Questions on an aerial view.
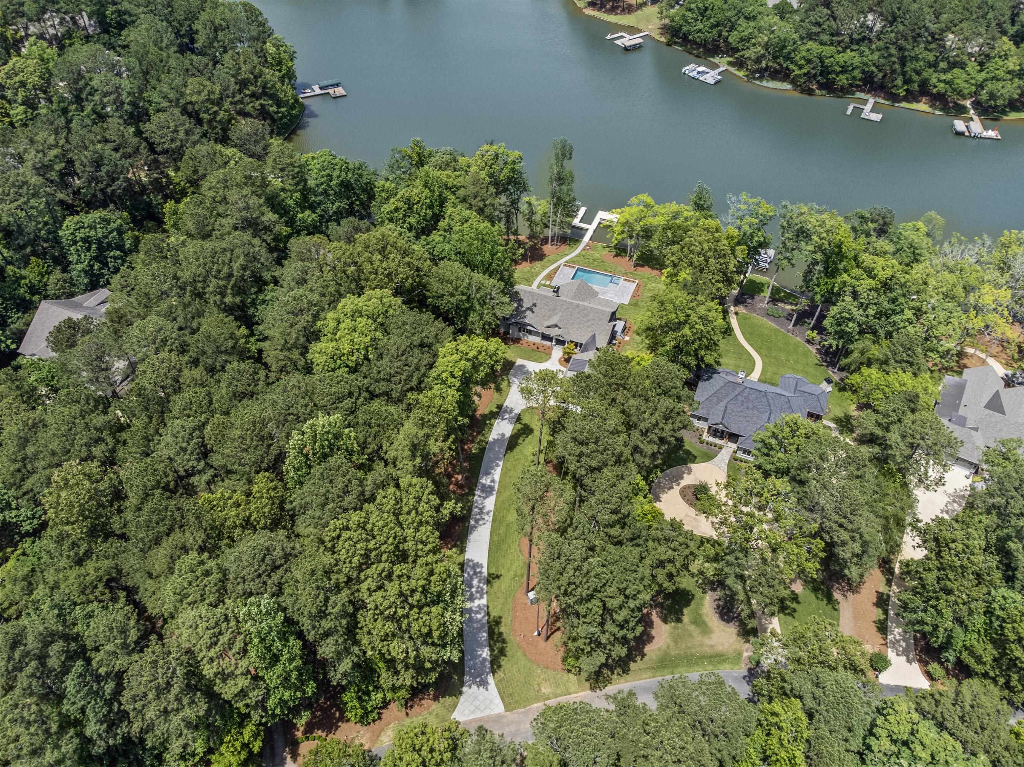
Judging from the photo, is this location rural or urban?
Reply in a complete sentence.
It looks rural.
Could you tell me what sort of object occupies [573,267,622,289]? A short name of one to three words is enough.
swimming pool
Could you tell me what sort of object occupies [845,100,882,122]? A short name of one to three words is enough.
pier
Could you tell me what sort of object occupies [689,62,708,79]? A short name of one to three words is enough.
boat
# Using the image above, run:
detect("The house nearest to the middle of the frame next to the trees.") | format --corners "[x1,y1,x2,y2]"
[496,278,630,394]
